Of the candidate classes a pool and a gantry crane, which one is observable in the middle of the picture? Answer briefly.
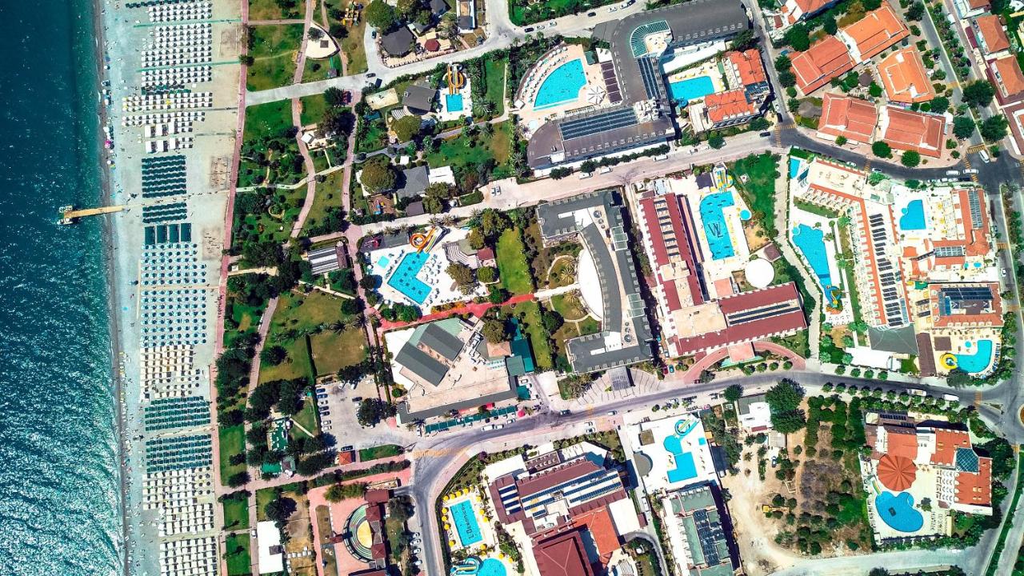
pool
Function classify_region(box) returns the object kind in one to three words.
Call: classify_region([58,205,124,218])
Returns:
pier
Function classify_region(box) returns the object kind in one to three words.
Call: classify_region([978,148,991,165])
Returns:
vehicle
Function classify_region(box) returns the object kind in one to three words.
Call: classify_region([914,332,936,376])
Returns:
house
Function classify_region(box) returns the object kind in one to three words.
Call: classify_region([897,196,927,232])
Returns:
swimming pool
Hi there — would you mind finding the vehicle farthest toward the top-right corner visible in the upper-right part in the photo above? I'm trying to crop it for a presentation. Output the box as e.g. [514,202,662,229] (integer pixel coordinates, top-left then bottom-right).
[945,9,958,26]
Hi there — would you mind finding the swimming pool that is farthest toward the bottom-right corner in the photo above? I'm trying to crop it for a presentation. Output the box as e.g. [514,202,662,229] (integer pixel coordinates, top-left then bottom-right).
[875,491,924,533]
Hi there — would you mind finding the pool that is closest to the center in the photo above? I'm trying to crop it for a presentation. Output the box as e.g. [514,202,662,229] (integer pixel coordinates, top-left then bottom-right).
[387,252,435,305]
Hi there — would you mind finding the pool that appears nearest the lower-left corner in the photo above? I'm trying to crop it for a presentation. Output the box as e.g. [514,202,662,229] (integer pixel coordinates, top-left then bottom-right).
[449,499,483,547]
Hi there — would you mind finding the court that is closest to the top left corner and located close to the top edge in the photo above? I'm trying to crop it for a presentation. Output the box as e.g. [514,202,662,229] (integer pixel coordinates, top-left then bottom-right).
[218,28,237,58]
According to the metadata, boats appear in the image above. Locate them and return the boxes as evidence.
[59,205,74,212]
[57,218,75,225]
